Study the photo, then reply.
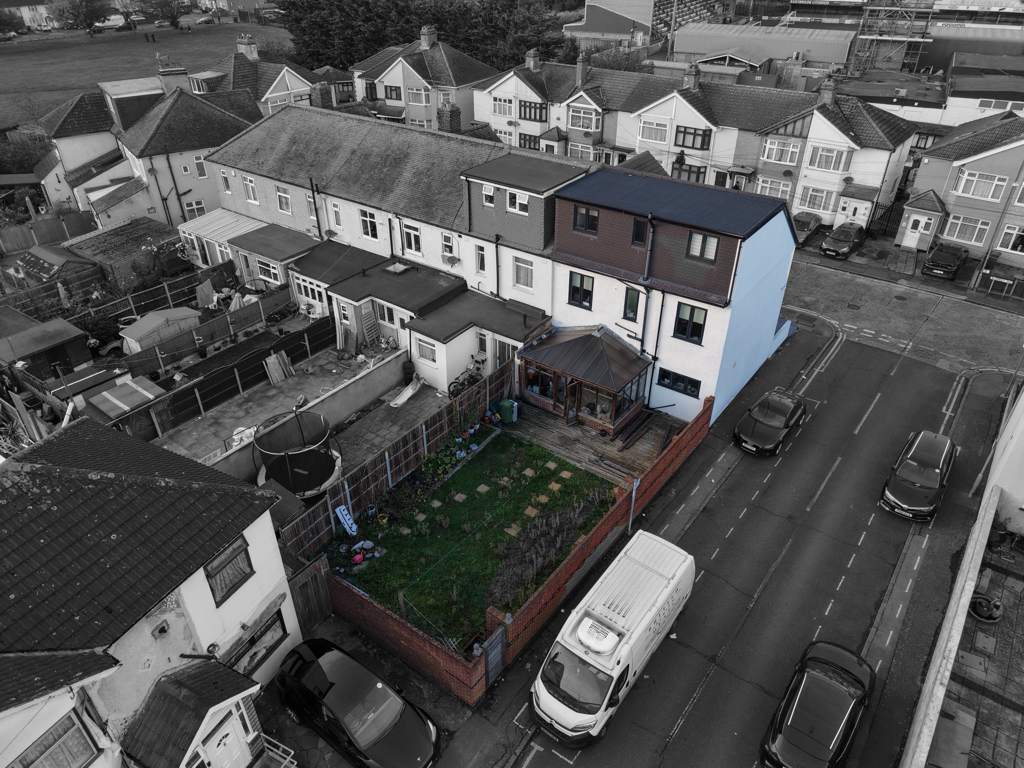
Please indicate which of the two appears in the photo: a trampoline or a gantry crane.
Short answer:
trampoline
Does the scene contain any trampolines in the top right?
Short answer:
No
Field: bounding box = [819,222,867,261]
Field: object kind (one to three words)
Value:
car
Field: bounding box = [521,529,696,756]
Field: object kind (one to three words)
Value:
van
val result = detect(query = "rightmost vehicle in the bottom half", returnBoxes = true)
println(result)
[876,428,960,528]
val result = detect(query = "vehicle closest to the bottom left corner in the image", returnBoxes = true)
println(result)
[261,640,448,768]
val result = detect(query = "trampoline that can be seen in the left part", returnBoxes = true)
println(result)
[252,412,342,496]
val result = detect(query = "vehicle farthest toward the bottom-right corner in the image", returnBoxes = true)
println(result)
[749,646,882,768]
